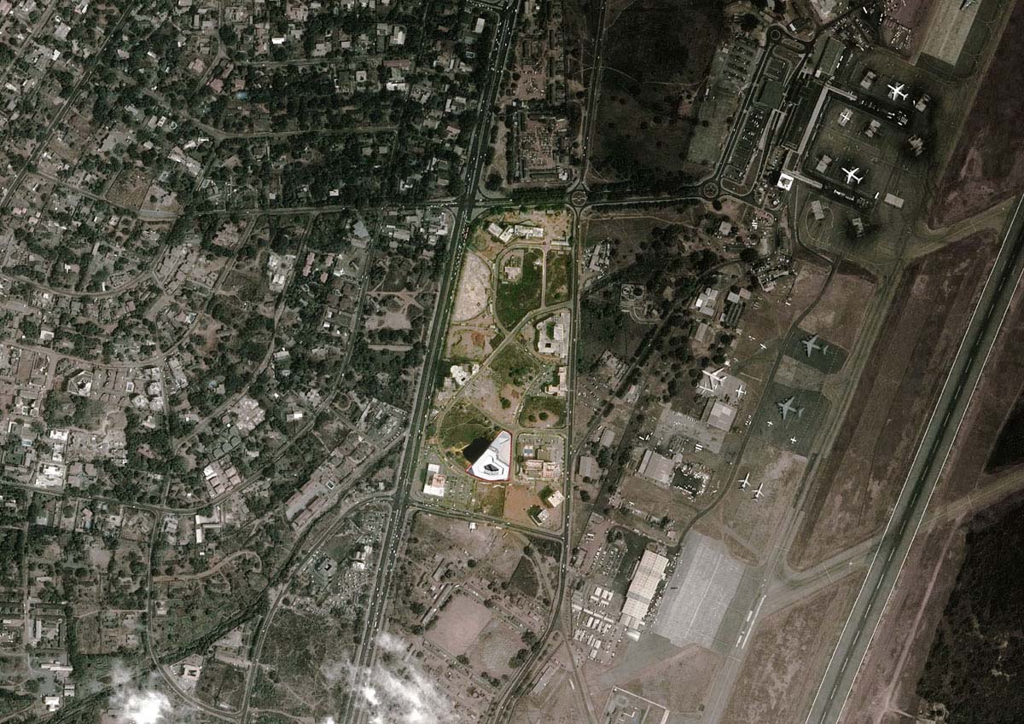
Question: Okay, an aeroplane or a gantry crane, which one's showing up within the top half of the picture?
aeroplane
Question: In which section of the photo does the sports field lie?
bottom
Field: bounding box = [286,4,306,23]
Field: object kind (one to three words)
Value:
house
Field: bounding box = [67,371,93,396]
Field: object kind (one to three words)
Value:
building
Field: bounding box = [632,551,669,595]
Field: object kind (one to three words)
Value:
hangar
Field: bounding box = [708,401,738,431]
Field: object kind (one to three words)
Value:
hangar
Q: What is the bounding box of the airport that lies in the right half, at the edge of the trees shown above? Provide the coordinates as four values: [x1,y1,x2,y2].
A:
[601,0,1024,724]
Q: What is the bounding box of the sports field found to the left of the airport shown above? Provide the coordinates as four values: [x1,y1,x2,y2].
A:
[425,595,492,655]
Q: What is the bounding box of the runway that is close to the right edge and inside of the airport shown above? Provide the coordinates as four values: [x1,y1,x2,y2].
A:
[805,191,1024,724]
